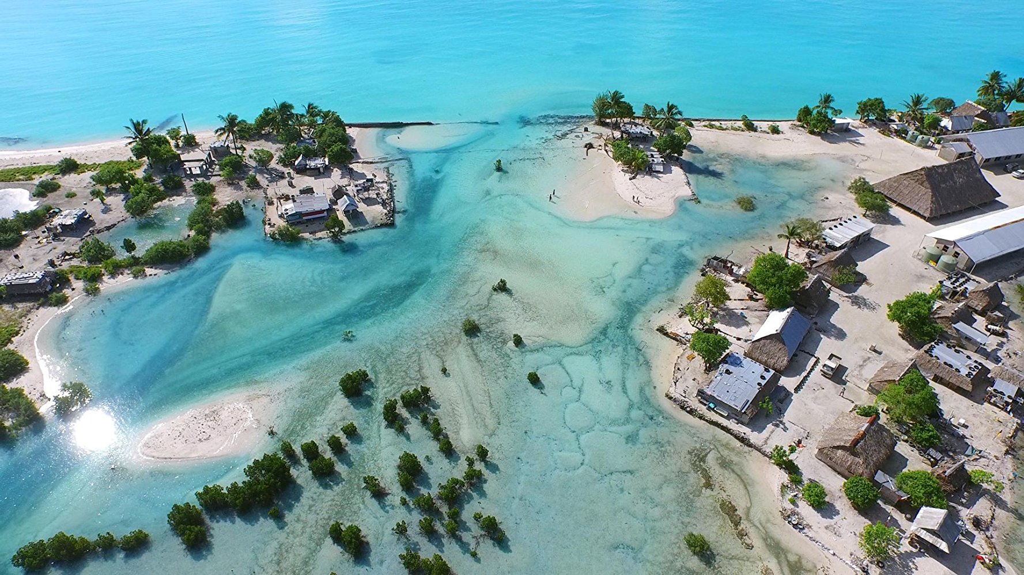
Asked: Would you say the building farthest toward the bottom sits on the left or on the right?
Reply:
right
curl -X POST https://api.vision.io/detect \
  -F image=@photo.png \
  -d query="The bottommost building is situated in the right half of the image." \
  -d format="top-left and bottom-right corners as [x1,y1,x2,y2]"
[910,506,964,558]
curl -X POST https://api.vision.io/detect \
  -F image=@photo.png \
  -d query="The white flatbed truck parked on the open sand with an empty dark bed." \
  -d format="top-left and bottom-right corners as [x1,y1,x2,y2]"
[821,349,844,376]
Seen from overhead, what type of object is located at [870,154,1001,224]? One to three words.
house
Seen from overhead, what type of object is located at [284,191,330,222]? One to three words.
house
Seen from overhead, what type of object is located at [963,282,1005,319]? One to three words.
building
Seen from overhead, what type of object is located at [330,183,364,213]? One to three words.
shed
